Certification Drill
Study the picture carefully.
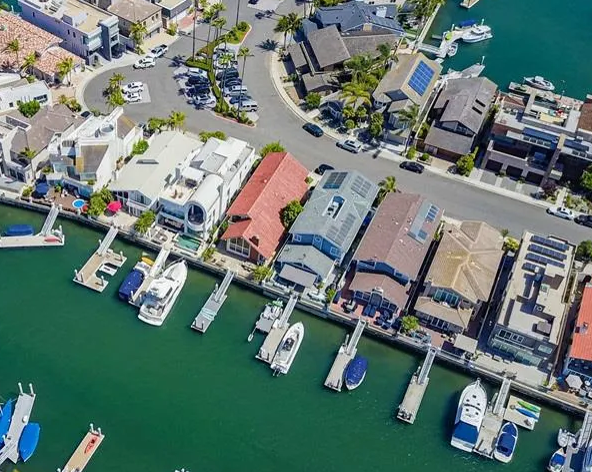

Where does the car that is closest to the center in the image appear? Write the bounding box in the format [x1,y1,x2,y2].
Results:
[313,163,336,175]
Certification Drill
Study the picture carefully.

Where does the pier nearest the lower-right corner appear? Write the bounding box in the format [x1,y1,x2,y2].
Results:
[562,406,592,472]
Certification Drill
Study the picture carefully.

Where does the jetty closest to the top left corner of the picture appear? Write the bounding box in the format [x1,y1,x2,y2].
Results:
[0,202,65,248]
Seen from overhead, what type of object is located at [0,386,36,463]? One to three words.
pier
